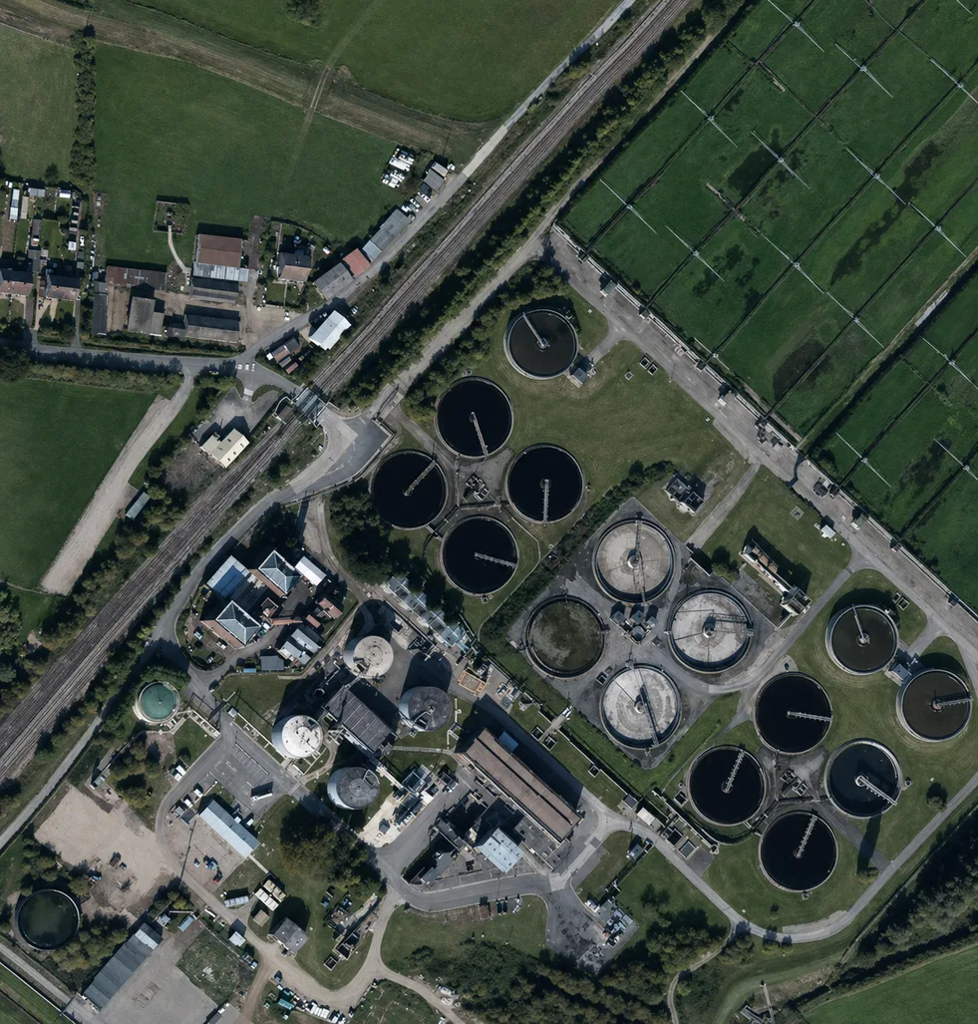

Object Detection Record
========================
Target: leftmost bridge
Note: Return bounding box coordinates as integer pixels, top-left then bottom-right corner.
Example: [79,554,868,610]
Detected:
[293,388,326,428]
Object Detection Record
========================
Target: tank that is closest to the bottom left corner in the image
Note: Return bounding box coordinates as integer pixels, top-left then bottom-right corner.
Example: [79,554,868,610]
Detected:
[12,888,81,956]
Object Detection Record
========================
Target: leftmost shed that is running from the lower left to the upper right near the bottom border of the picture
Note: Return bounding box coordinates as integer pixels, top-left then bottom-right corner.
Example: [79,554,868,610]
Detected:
[81,936,151,1010]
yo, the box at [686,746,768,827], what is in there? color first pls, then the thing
black storage tank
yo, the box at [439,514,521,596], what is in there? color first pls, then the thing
black storage tank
